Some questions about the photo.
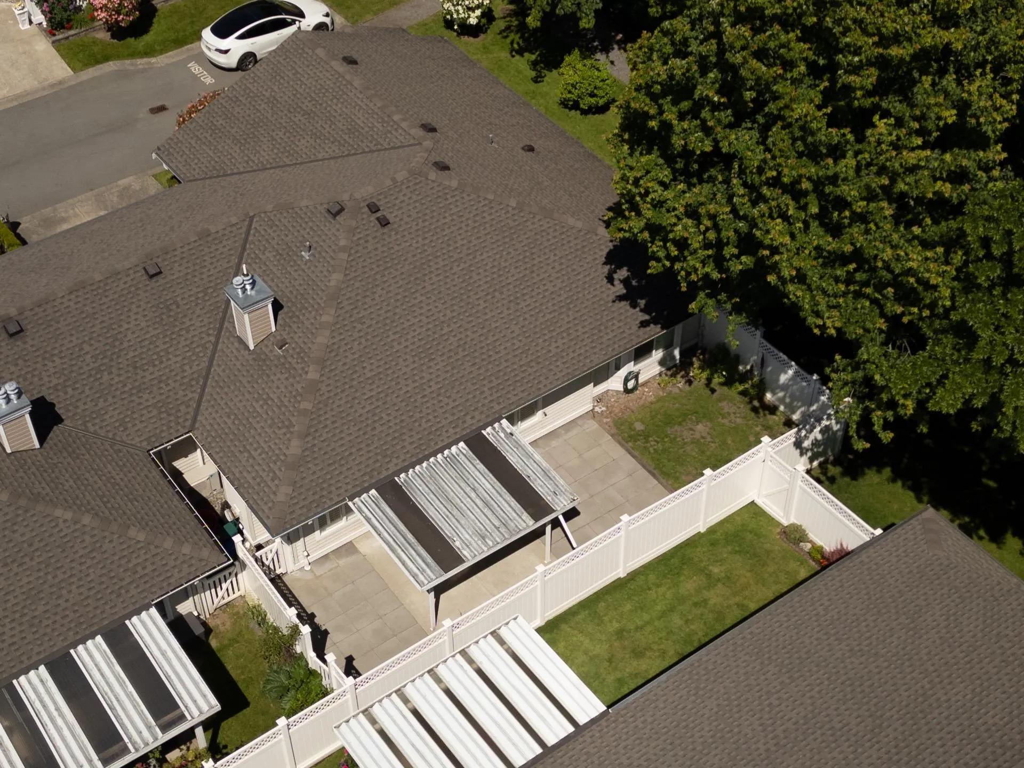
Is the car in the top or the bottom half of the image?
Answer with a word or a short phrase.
top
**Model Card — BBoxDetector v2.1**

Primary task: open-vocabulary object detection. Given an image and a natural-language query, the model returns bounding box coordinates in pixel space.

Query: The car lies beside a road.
[197,0,335,72]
